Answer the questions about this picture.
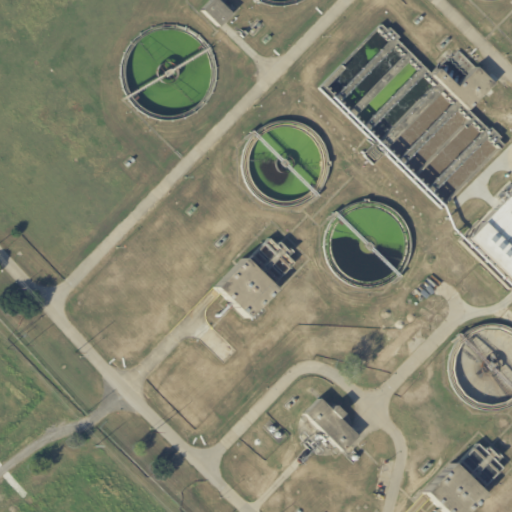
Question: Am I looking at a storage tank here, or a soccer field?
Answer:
storage tank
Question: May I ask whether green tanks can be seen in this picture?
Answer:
Yes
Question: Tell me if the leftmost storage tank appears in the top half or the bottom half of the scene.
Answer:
top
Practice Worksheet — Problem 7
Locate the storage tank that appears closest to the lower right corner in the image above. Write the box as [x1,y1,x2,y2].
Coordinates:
[457,444,505,490]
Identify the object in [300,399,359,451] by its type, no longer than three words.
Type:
building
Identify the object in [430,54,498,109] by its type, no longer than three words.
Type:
building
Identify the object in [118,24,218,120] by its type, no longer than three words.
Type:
storage tank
